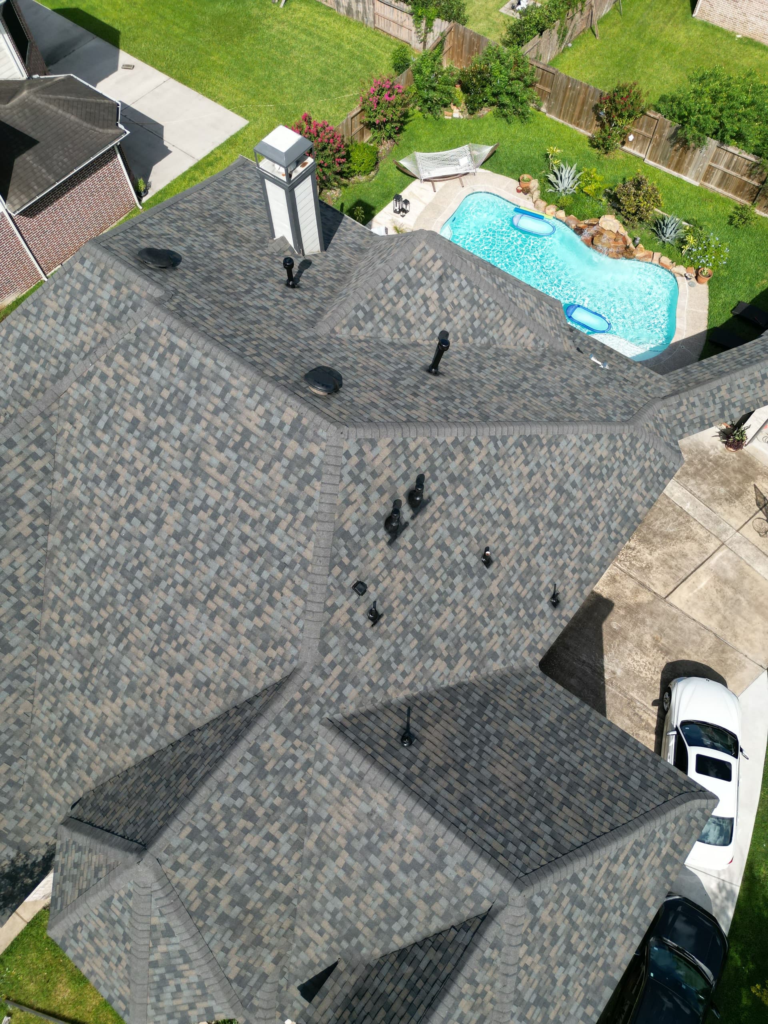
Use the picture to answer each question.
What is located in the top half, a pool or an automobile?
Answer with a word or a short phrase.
pool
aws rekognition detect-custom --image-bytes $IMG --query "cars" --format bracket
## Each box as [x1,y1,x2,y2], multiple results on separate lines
[590,885,732,1024]
[661,678,759,871]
